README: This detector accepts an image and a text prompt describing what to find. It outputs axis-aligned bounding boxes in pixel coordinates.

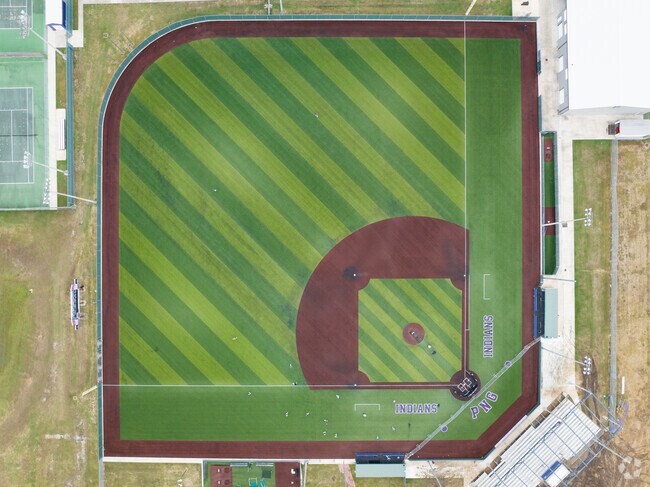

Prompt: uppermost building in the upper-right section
[557,0,650,114]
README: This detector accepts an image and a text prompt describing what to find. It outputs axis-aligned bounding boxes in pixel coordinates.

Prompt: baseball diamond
[102,20,541,459]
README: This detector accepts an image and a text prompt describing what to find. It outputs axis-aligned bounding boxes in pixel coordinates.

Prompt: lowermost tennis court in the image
[0,87,36,183]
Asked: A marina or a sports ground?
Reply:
sports ground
